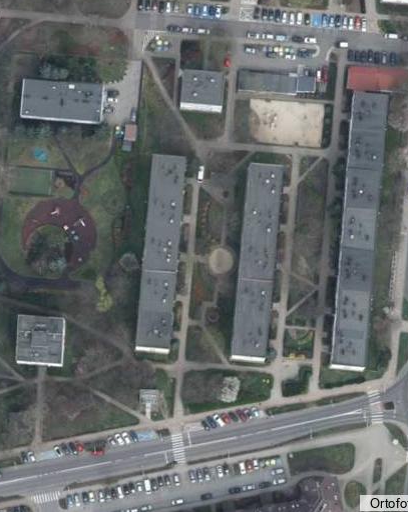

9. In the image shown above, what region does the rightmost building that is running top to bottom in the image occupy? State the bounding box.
[331,91,389,371]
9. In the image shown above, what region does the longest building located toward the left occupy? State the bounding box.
[135,155,187,355]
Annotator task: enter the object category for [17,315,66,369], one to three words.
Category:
house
